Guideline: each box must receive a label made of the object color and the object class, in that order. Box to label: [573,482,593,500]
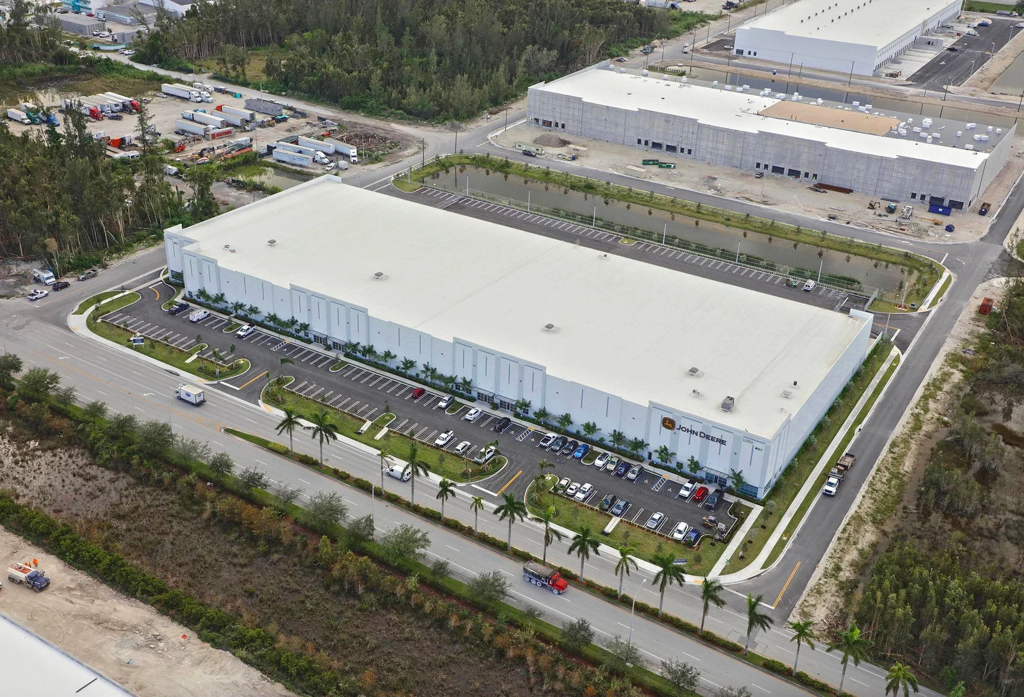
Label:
white car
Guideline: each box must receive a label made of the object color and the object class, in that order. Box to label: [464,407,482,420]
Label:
white vehicle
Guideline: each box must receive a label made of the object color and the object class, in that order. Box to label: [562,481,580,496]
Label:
white car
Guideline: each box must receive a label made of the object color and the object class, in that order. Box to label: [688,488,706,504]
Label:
red car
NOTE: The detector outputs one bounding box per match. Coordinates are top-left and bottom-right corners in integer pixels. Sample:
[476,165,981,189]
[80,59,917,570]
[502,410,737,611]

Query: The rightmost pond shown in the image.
[431,167,900,289]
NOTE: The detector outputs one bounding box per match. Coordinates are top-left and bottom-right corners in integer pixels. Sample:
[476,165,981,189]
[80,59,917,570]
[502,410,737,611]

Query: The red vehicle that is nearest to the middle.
[408,387,426,399]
